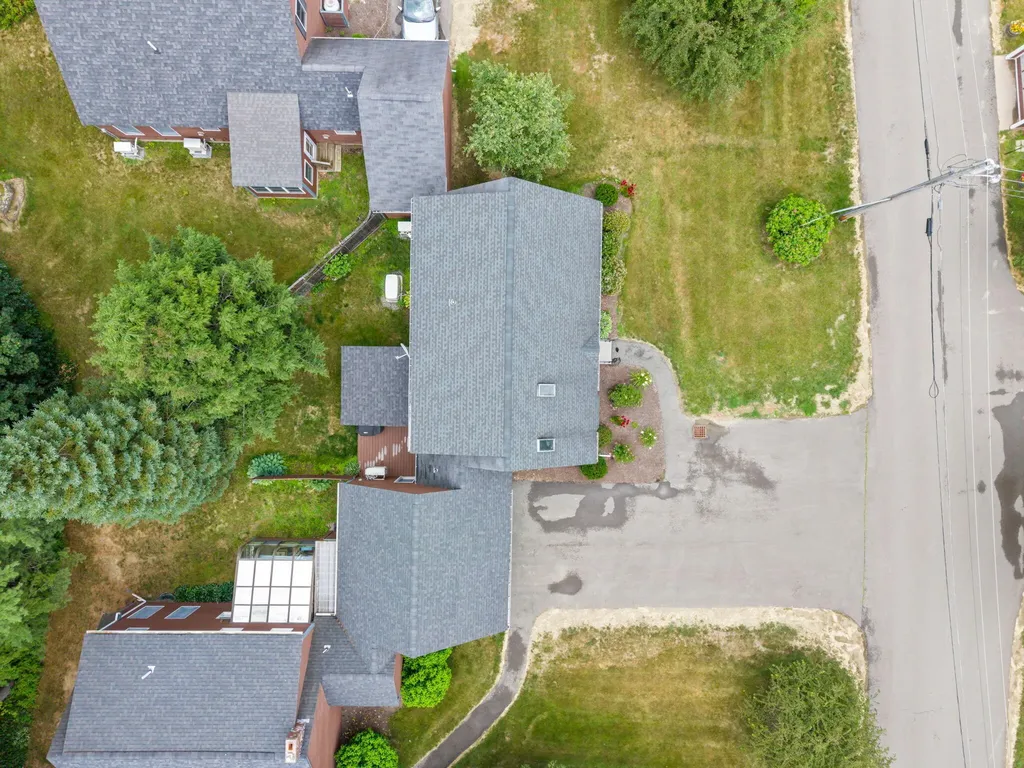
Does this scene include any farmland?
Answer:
No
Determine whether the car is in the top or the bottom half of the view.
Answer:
top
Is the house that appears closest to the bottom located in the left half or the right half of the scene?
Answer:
left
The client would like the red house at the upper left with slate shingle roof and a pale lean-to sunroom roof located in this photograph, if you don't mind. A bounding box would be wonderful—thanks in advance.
[34,0,451,217]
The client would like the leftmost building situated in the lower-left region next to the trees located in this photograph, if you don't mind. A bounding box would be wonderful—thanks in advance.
[48,530,404,768]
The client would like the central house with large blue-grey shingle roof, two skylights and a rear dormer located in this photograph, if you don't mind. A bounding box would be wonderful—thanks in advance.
[337,178,611,684]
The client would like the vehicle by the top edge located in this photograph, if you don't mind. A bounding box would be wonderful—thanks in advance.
[397,0,444,36]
